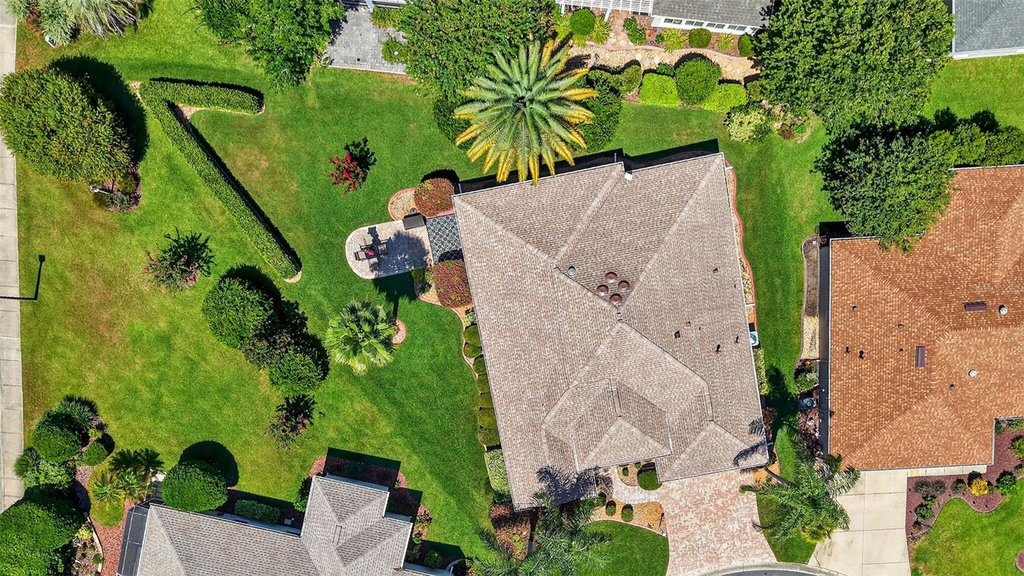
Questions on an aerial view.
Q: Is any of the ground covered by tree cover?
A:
Yes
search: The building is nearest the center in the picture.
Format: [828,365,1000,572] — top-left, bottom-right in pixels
[452,152,770,511]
